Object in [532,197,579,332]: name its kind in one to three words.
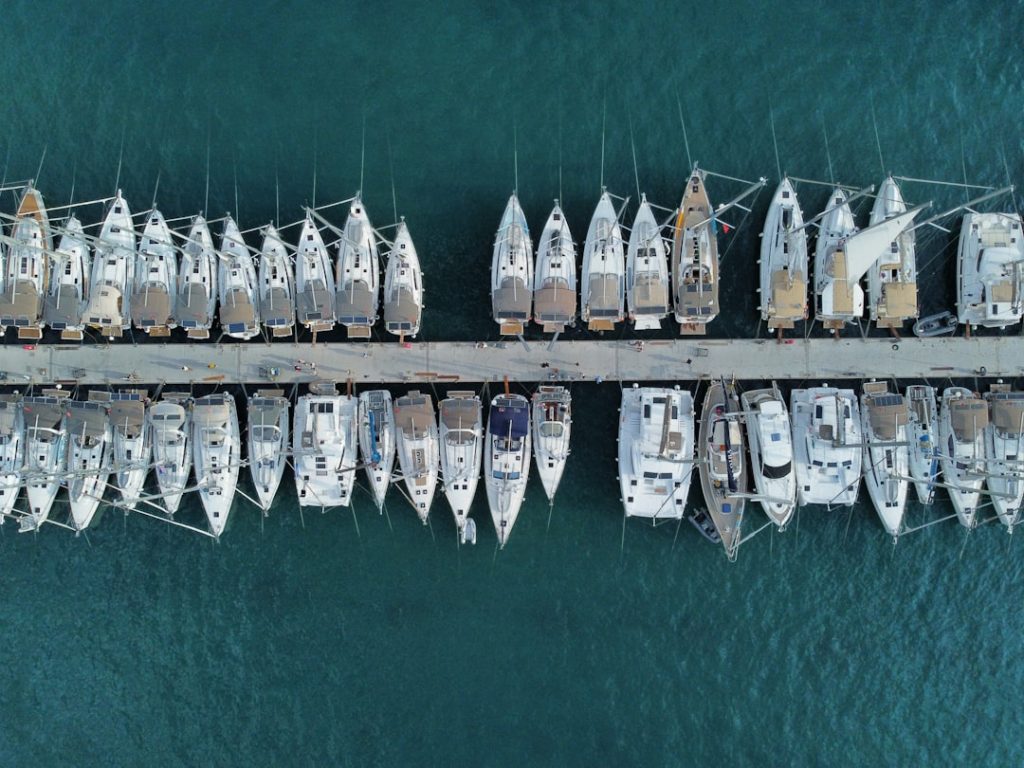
boat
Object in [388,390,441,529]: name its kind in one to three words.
boat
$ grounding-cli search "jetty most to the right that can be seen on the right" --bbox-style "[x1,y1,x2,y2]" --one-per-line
[1000,336,1024,378]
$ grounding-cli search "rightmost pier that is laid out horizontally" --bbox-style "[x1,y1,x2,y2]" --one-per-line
[808,336,1002,380]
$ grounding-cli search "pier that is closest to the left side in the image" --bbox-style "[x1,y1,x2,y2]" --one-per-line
[0,343,49,386]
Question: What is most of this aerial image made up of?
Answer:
water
